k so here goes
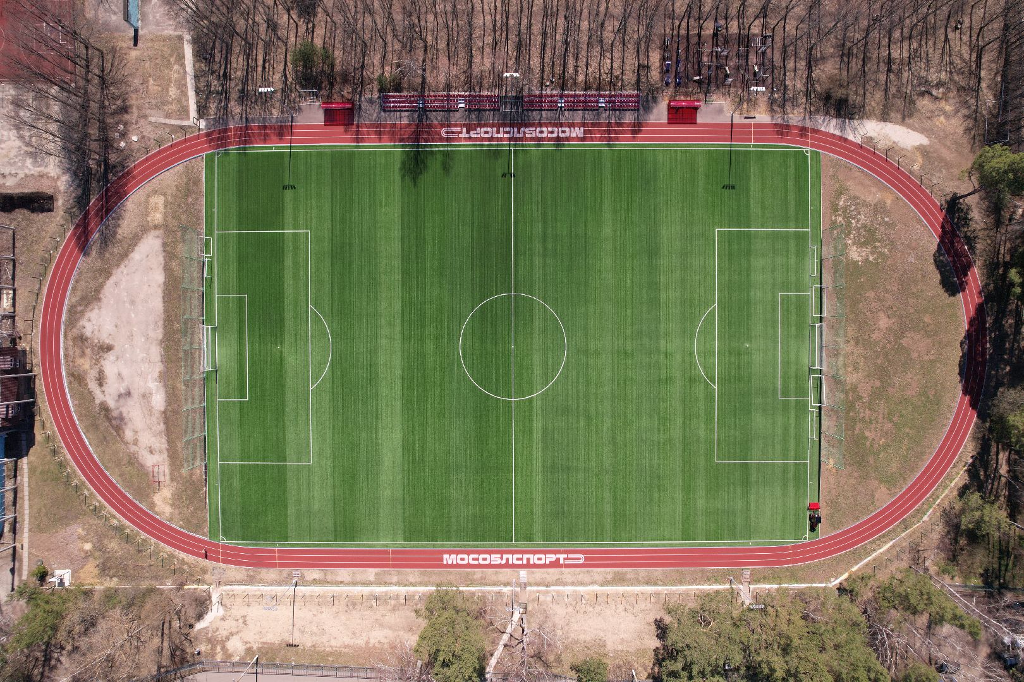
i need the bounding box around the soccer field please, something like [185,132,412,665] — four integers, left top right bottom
[204,144,821,547]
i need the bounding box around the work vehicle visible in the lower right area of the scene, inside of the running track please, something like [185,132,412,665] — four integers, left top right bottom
[806,504,824,530]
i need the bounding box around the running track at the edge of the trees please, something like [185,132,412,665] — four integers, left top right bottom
[40,122,988,569]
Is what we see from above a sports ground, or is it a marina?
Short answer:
sports ground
